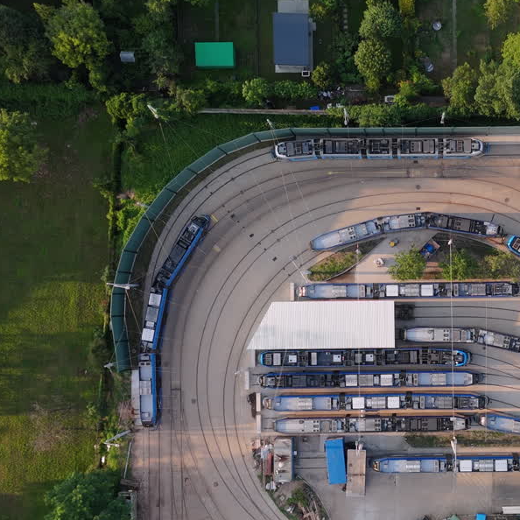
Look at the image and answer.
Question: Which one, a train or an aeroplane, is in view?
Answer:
train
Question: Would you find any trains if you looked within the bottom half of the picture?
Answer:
Yes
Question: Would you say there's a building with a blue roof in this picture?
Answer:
Yes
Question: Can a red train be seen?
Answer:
No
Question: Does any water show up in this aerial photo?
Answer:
No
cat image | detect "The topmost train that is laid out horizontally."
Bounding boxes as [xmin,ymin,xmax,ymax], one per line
[275,138,485,160]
